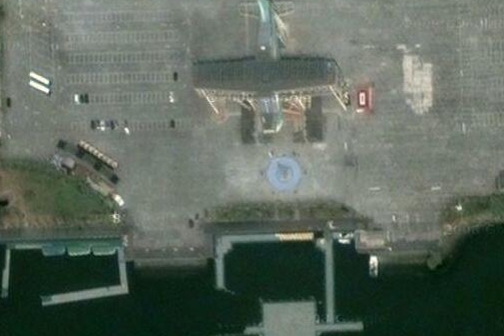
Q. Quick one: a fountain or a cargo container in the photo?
fountain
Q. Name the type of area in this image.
parking lot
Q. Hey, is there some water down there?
Yes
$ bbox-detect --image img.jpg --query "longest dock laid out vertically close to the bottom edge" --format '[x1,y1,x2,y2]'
[316,229,364,332]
